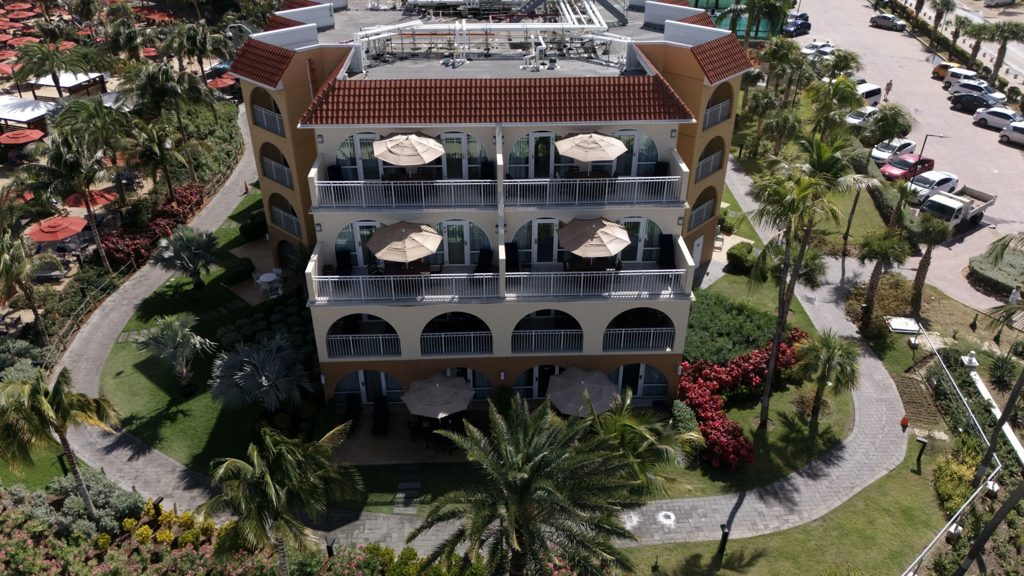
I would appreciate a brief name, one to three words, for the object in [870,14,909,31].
car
